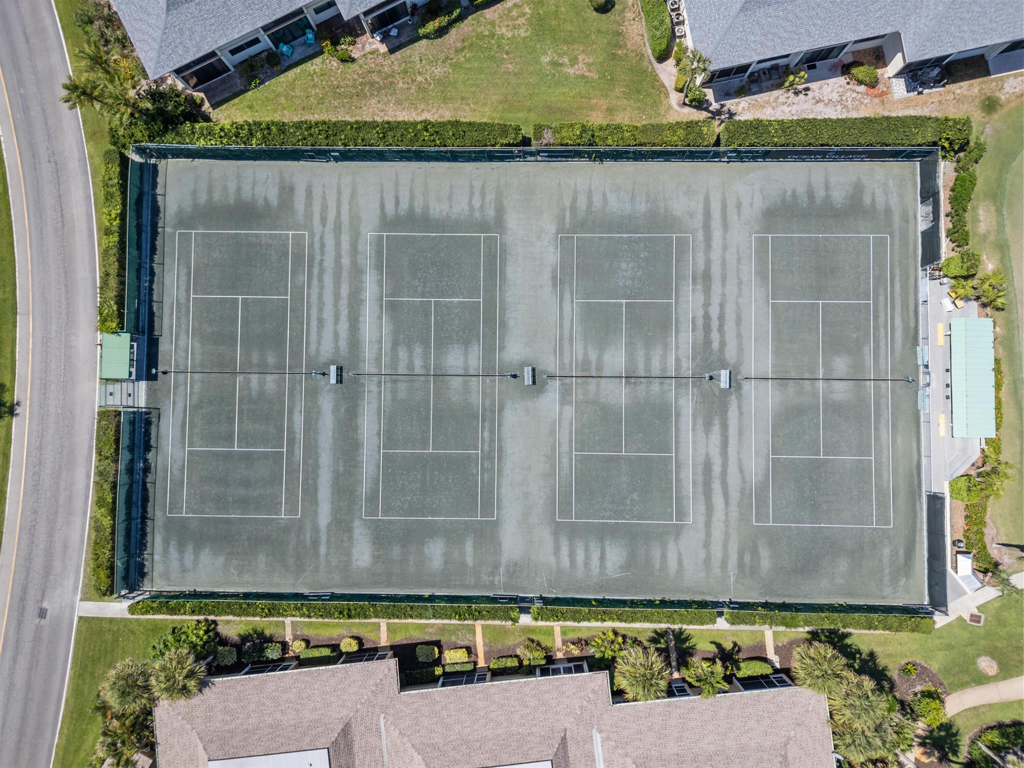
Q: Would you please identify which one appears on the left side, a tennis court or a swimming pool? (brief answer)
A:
tennis court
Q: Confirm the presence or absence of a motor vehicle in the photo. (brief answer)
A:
No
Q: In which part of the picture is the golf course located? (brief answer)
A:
right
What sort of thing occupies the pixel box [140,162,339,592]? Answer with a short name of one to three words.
tennis court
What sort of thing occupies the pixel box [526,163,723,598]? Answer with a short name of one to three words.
tennis court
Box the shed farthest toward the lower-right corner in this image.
[950,552,983,592]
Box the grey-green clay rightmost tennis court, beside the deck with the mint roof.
[722,163,926,605]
